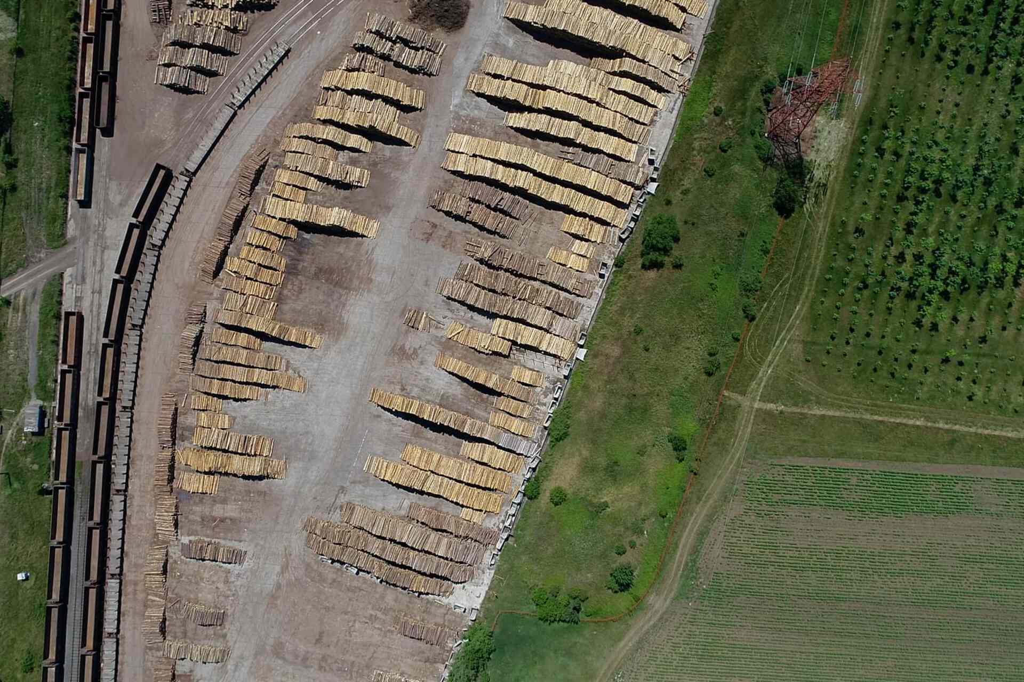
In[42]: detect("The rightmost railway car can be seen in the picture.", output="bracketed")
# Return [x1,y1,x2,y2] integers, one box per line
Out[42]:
[229,40,291,108]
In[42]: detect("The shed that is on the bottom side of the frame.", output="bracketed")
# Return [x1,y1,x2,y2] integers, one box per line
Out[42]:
[24,404,47,432]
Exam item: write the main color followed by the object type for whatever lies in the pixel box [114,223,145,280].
black rail car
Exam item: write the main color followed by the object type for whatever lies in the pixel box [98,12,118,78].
black rail car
